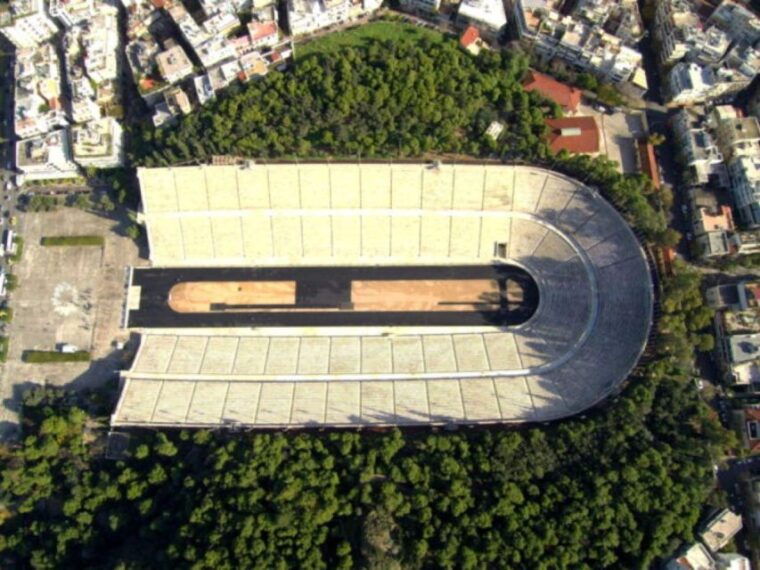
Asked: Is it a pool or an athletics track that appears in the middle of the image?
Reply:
athletics track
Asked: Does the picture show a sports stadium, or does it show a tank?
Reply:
sports stadium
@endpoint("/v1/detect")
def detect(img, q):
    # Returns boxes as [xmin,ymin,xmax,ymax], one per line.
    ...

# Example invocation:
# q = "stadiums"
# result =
[107,163,656,429]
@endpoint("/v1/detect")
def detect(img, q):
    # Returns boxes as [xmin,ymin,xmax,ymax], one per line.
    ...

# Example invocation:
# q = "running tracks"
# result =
[123,264,541,329]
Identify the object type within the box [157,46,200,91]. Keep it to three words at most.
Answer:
building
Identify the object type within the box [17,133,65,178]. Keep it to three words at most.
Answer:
building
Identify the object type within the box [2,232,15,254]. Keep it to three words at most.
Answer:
vehicle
